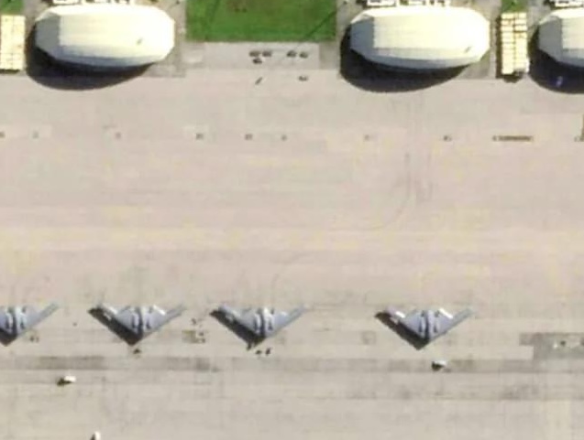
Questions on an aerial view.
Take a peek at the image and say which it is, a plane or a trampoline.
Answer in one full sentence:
Of the two, only a plane appears.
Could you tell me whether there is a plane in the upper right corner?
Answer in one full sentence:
No, no plane can be made out in the upper right corner.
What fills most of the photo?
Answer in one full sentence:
The scene is dominated by paved ground.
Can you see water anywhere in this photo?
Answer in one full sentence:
No, the scene doesn't show any water.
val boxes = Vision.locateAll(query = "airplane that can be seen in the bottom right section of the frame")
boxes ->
[384,304,474,342]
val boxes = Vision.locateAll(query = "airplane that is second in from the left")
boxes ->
[95,299,186,337]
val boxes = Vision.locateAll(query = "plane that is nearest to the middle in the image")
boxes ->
[218,300,307,337]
